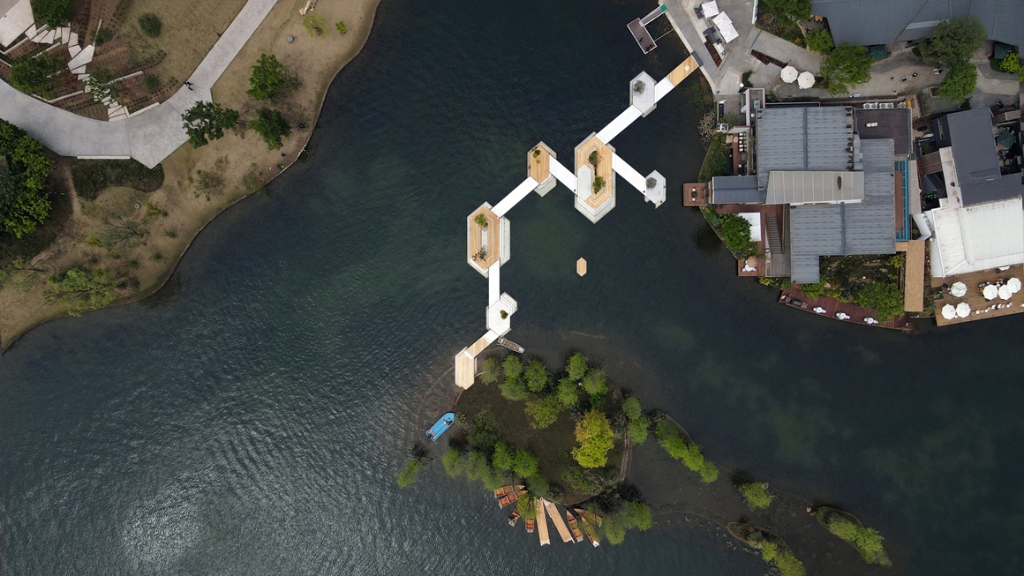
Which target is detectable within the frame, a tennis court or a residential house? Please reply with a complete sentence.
It is a residential house that can be seen here.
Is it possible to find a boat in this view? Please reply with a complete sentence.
Yes, I can see a boat in this picture.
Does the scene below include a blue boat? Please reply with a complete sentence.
Yes, the image includes a blue boat.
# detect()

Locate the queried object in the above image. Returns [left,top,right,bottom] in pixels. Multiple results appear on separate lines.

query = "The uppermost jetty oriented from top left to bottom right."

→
[626,17,658,55]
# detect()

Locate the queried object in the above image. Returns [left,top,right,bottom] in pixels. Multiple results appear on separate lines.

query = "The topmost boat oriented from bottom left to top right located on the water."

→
[427,413,456,441]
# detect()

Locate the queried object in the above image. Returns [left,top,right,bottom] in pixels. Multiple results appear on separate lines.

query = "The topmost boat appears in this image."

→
[498,337,524,351]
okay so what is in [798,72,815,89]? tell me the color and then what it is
white umbrella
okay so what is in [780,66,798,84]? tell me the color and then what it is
white umbrella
